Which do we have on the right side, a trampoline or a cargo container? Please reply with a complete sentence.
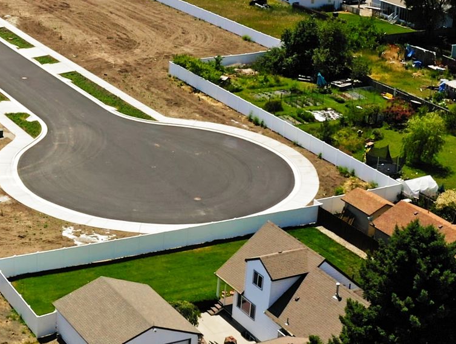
There is a trampoline on the right side.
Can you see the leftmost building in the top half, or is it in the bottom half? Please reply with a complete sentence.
Seen from above, the leftmost building lies in the bottom half of the view.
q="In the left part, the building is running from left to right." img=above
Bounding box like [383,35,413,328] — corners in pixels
[50,273,202,344]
